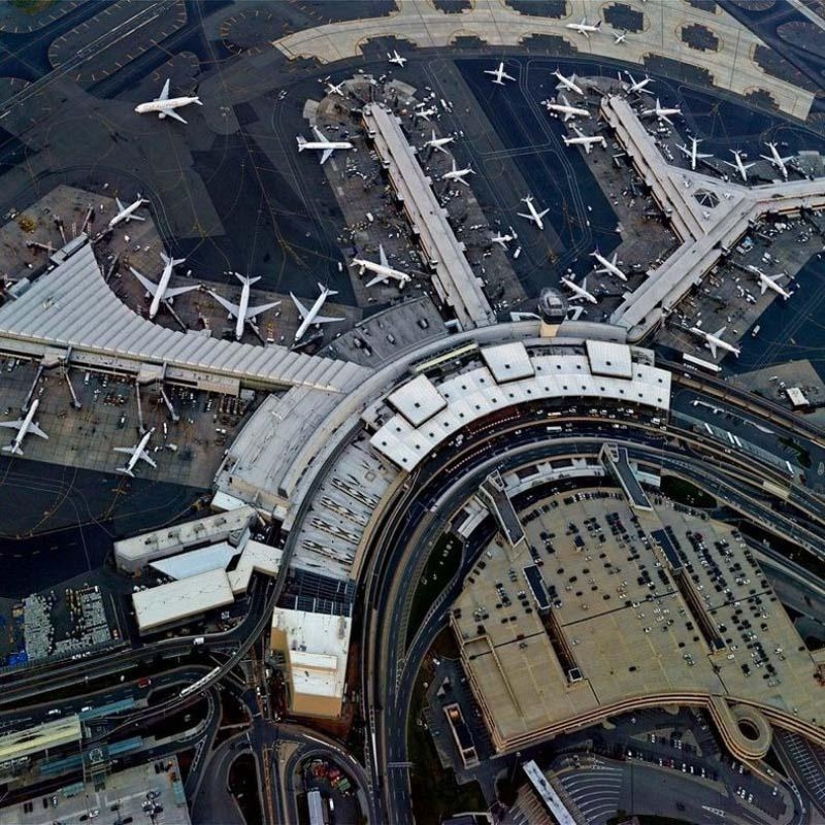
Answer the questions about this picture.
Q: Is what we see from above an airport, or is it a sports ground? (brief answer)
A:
airport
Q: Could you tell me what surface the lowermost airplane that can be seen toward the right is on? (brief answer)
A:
apron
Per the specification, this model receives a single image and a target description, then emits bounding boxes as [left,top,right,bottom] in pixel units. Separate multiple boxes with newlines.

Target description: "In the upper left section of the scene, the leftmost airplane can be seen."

[110,193,150,226]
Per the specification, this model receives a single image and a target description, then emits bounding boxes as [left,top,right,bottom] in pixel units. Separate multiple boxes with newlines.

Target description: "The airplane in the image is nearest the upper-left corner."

[135,77,205,124]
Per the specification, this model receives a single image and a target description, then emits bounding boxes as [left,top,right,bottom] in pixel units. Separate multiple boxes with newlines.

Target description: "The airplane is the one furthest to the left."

[0,400,52,454]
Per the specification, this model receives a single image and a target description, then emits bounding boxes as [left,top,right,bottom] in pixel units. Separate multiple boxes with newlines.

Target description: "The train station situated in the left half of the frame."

[0,690,84,771]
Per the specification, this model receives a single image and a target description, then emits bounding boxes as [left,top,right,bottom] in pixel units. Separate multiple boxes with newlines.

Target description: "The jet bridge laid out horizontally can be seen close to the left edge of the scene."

[27,239,60,253]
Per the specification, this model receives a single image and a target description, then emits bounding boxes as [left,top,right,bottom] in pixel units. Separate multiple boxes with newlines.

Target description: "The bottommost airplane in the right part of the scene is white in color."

[690,327,743,359]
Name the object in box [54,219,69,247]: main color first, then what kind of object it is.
gray jet bridge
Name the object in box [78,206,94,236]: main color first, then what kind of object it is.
gray jet bridge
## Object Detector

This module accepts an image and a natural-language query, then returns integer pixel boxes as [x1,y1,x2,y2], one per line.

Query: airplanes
[0,400,52,454]
[690,327,743,359]
[116,429,162,475]
[748,267,794,299]
[444,162,478,188]
[723,146,757,182]
[128,251,201,320]
[551,67,582,95]
[207,272,282,342]
[324,76,345,96]
[646,96,685,125]
[483,63,516,84]
[563,125,606,154]
[624,71,657,96]
[518,191,553,230]
[566,17,599,37]
[591,246,627,281]
[412,102,438,118]
[559,275,596,305]
[676,135,715,169]
[428,130,459,154]
[612,27,630,45]
[296,126,352,164]
[135,77,205,124]
[287,283,346,342]
[493,228,515,247]
[349,244,411,288]
[759,139,794,181]
[110,193,150,226]
[548,94,589,121]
